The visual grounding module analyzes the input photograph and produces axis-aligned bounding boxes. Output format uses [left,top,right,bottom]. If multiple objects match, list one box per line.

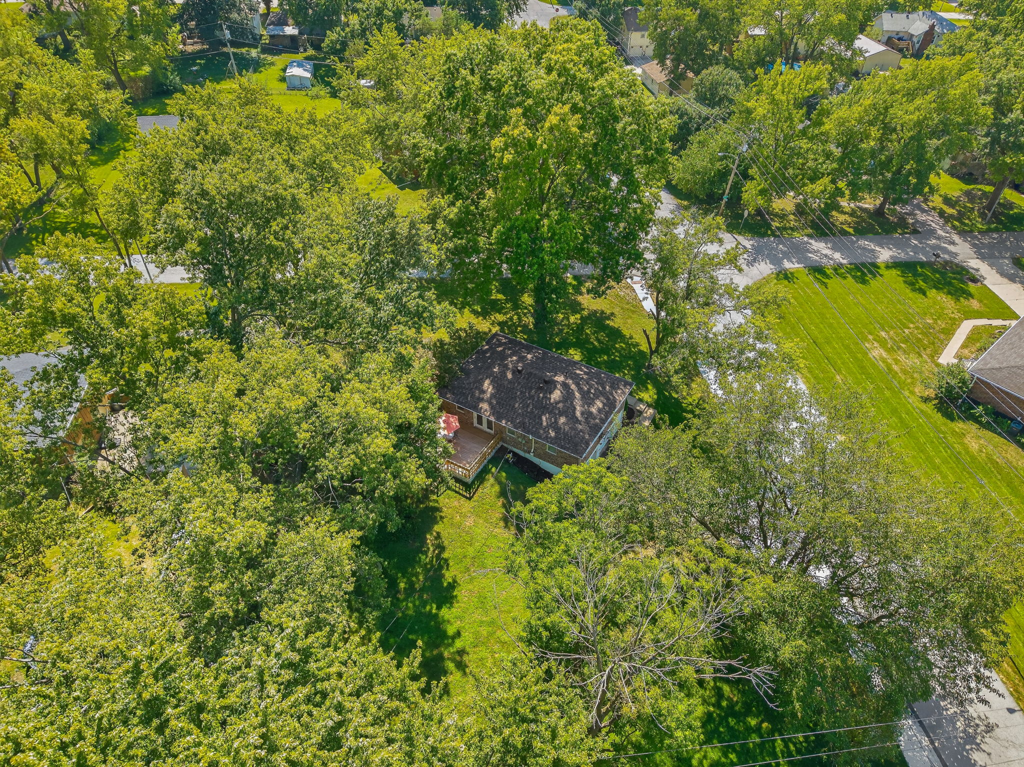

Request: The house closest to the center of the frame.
[441,331,633,479]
